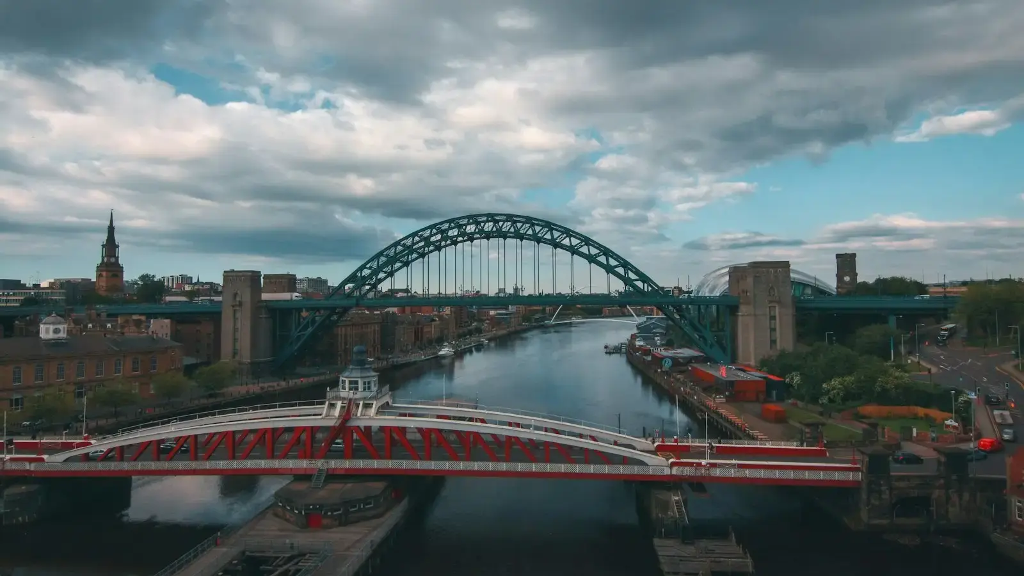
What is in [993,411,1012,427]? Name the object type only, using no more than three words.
vehicle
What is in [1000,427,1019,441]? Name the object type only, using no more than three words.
car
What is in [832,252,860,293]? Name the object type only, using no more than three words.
building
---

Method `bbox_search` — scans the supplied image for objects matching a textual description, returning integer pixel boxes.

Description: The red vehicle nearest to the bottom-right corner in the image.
[971,438,1010,454]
